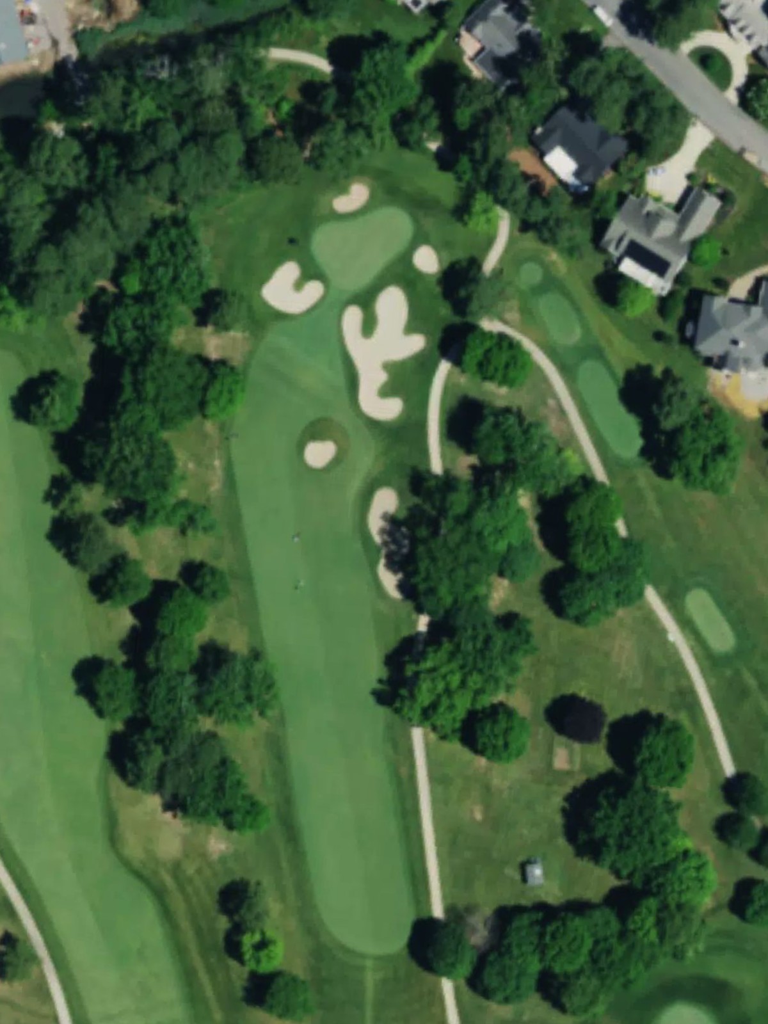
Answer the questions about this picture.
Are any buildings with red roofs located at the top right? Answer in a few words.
No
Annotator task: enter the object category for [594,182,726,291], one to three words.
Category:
house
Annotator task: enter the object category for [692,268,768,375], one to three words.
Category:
house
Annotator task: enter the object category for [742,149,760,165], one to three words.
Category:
car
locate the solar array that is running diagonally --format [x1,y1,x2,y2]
[625,240,672,277]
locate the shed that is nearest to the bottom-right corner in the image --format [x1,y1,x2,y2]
[525,856,543,887]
